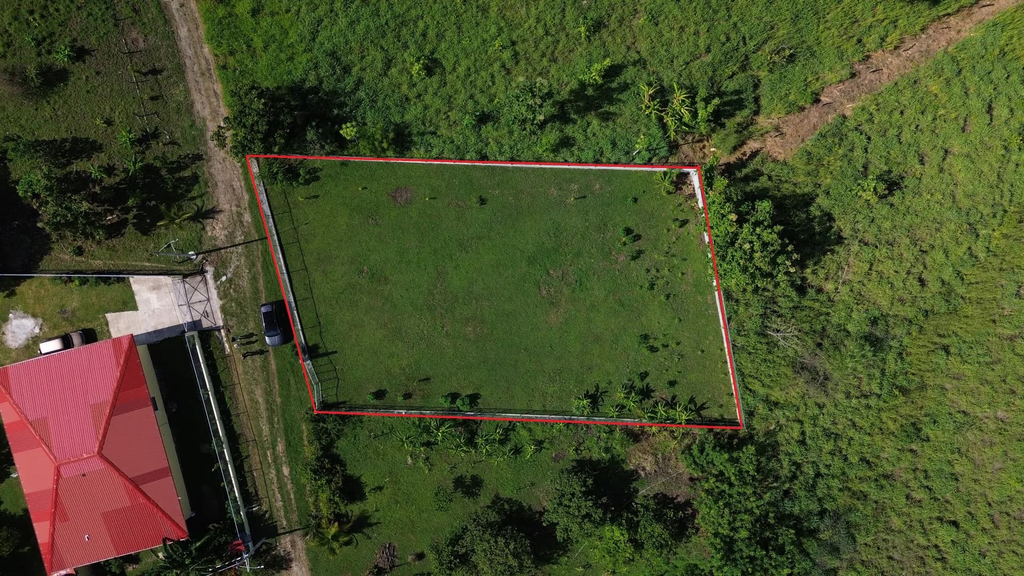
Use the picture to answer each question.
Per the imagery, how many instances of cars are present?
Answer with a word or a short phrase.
2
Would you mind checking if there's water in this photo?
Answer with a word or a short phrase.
No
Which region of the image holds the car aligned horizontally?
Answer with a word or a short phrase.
left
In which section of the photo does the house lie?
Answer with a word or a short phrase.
bottom left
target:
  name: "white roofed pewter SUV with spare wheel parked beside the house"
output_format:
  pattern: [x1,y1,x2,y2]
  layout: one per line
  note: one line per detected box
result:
[36,328,88,354]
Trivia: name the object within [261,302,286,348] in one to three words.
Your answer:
car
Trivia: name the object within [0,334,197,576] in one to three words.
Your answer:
house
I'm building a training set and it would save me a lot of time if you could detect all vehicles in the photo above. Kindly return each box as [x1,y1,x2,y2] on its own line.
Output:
[261,302,286,348]
[36,328,88,354]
